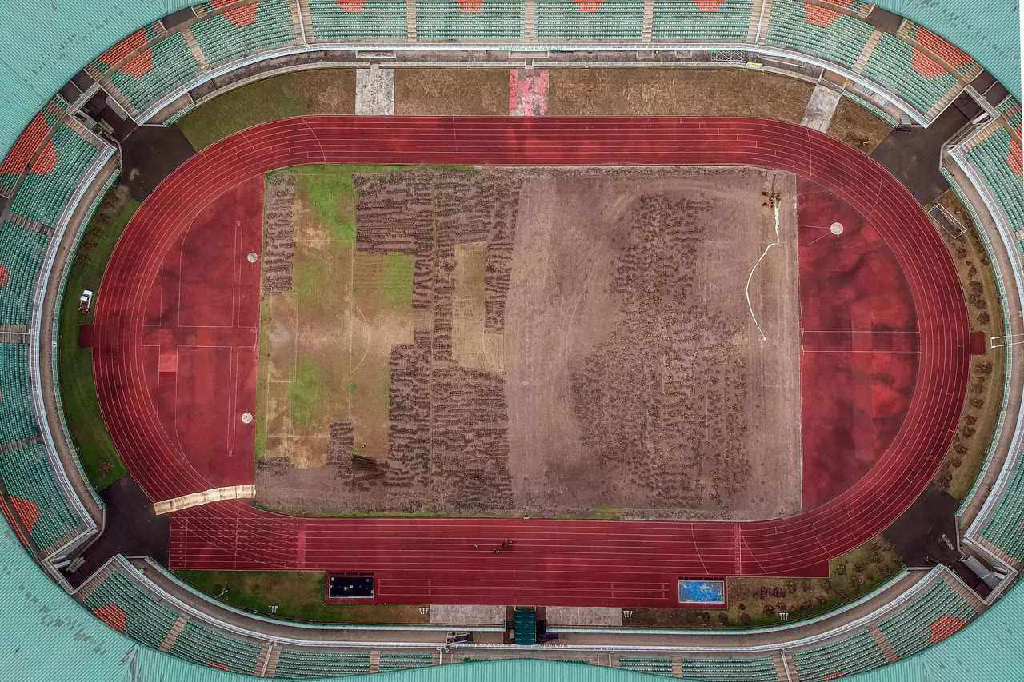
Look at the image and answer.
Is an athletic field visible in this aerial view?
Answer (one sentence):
Yes, there's an athletic field here.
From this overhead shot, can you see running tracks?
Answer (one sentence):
Yes, a running track is visible in the scene.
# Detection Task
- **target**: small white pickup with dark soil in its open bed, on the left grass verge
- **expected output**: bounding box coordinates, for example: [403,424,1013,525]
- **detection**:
[77,289,93,312]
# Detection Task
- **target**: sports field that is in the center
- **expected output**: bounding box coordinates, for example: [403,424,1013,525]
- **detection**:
[255,163,800,525]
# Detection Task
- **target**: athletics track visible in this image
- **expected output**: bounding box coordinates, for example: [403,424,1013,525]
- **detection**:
[78,113,985,610]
